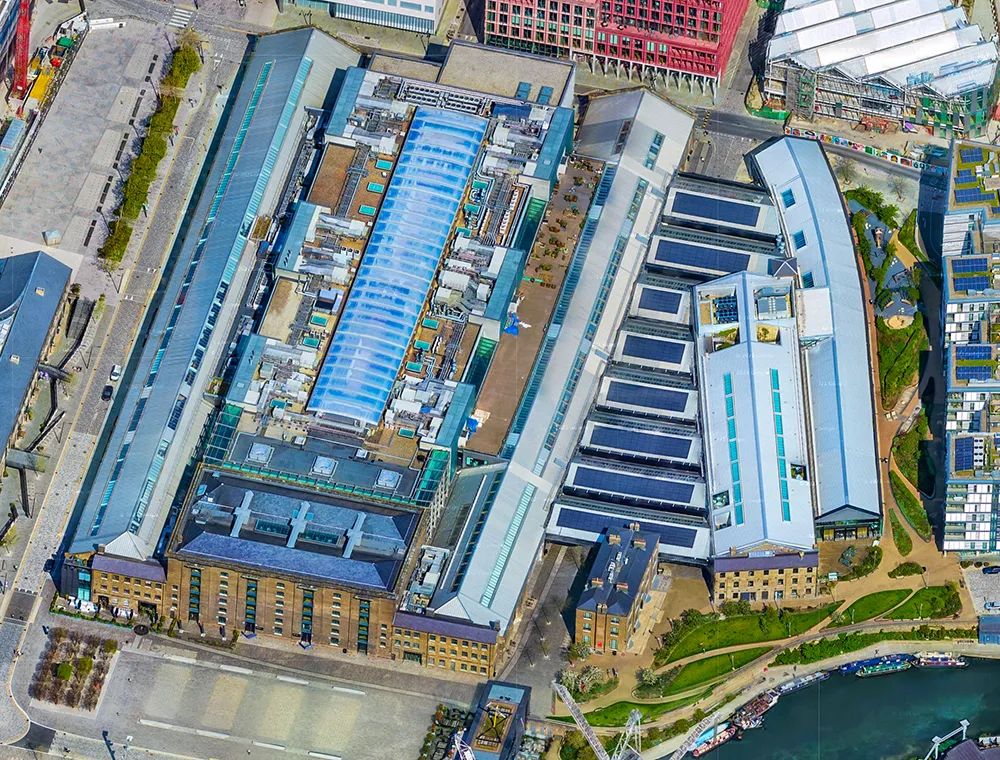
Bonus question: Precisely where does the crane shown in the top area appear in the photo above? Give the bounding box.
[8,0,31,104]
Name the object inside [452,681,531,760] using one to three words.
building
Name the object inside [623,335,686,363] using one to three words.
solar panel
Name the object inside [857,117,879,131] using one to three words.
vehicle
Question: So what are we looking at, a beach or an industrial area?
industrial area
